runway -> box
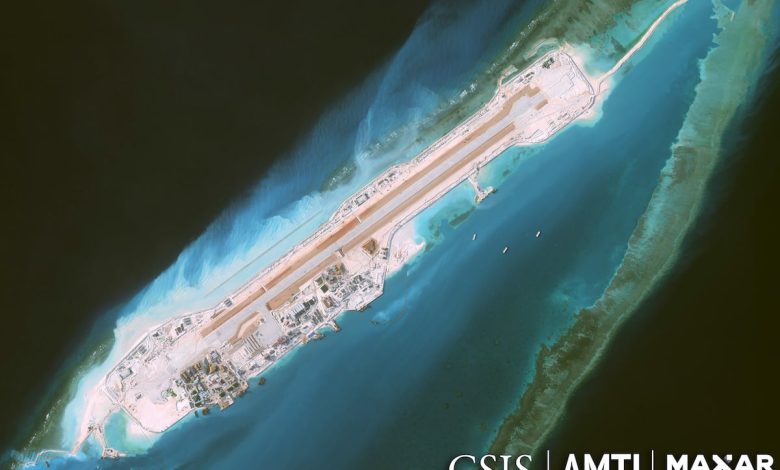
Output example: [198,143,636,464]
[189,112,519,353]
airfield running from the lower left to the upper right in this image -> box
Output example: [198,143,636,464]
[189,85,548,359]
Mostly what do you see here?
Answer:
water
